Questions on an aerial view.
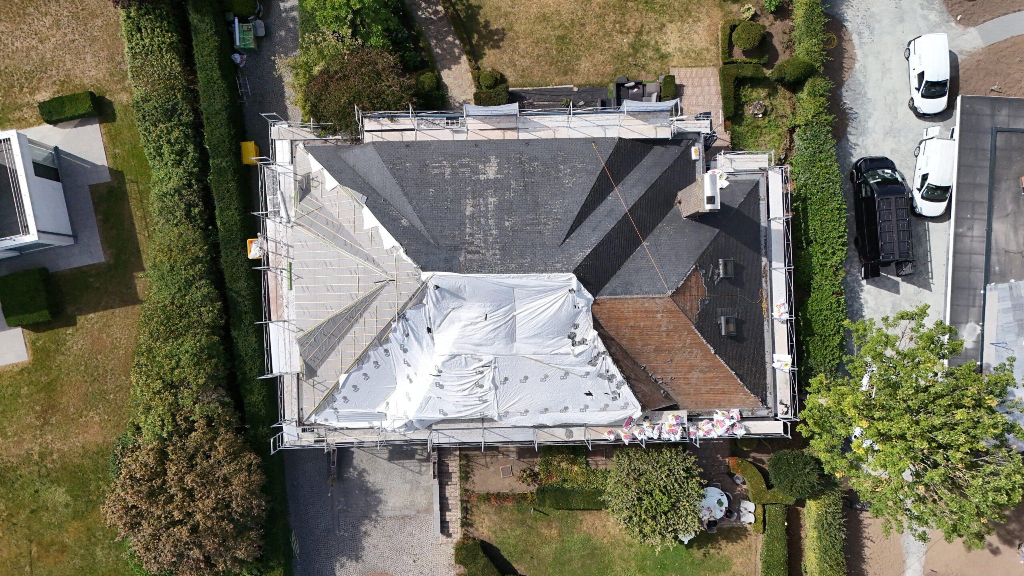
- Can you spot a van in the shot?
Yes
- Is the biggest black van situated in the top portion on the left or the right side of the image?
right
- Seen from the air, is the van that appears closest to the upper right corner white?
Yes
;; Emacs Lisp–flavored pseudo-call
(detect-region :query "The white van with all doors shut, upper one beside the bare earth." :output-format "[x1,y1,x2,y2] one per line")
[901,33,952,119]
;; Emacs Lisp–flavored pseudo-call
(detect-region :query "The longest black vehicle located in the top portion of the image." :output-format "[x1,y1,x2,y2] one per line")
[851,155,914,277]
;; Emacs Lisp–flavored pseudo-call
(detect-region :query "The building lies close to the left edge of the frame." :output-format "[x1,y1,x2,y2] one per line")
[0,129,81,258]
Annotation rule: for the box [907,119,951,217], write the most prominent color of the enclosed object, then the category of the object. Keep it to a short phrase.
white van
